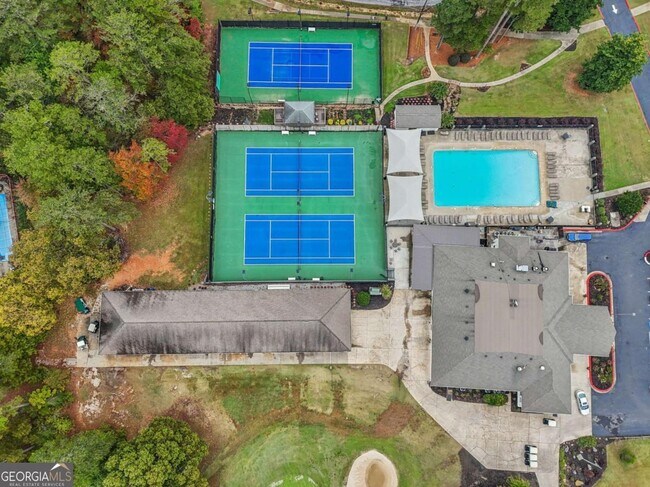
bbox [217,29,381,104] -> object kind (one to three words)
tennis court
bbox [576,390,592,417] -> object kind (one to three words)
car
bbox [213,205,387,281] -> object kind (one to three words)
tennis court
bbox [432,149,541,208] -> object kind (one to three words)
swimming pool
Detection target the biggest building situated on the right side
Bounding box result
[409,225,615,414]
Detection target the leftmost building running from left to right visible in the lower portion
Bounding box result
[98,288,352,354]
